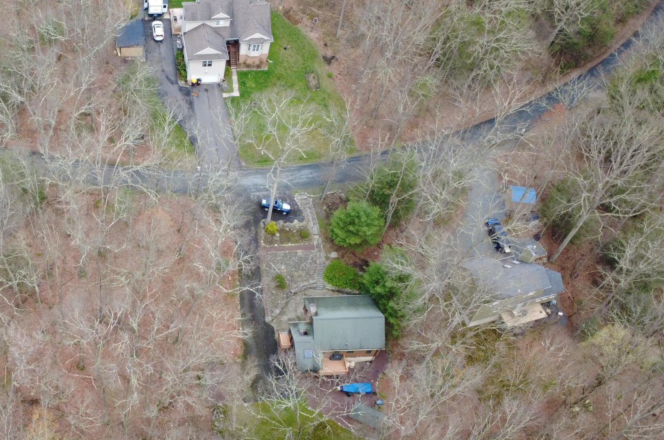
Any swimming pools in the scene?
No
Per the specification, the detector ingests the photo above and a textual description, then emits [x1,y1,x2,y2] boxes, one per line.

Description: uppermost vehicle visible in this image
[143,0,168,15]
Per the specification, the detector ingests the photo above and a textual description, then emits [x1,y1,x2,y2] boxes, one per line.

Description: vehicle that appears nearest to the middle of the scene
[260,196,293,215]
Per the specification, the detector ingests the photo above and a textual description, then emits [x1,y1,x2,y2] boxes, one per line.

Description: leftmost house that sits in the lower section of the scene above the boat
[278,295,385,379]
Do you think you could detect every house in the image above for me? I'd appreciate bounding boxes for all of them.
[169,0,275,82]
[278,295,385,379]
[453,252,565,332]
